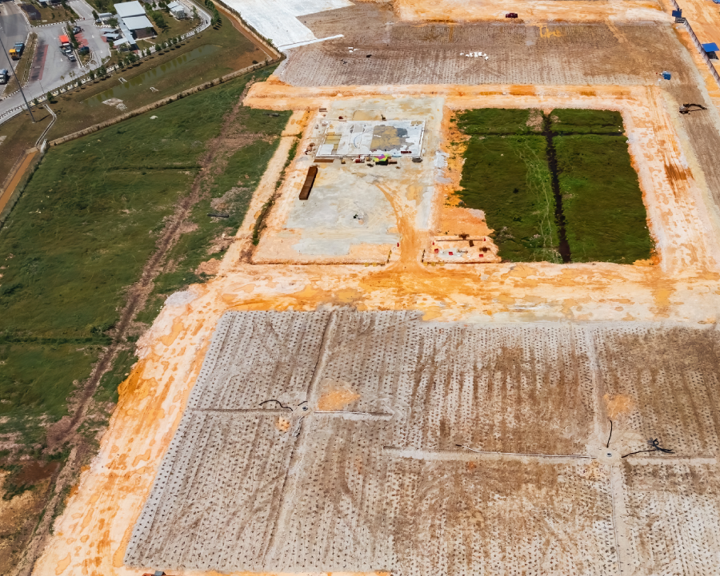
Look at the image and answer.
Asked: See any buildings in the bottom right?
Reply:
No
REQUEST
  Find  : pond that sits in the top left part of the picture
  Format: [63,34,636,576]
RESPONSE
[81,44,223,109]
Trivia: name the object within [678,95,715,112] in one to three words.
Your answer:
work vehicle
